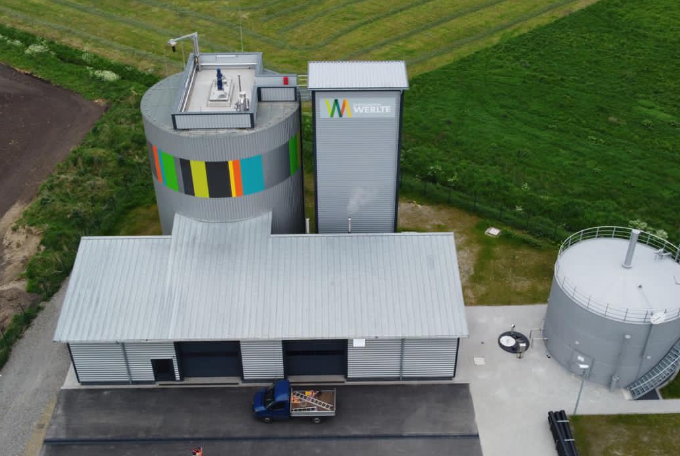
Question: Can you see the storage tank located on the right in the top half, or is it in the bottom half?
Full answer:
The storage tank located on the right sits in the bottom half of the picture.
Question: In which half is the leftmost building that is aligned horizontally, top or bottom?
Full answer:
The leftmost building that is aligned horizontally sits in the bottom half of the picture.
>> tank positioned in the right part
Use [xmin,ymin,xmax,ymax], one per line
[542,226,680,391]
